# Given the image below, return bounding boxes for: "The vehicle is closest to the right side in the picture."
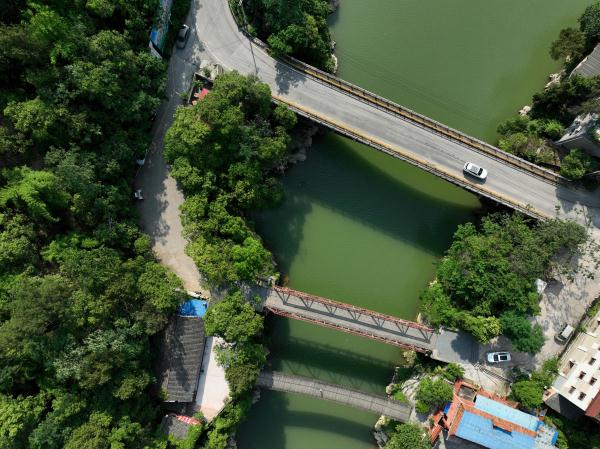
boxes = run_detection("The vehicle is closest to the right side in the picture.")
[556,324,578,345]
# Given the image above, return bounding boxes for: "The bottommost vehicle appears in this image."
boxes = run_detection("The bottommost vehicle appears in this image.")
[488,352,513,365]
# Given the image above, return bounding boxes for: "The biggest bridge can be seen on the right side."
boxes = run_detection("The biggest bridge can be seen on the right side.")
[270,57,576,225]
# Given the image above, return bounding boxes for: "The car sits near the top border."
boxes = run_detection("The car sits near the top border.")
[175,22,189,48]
